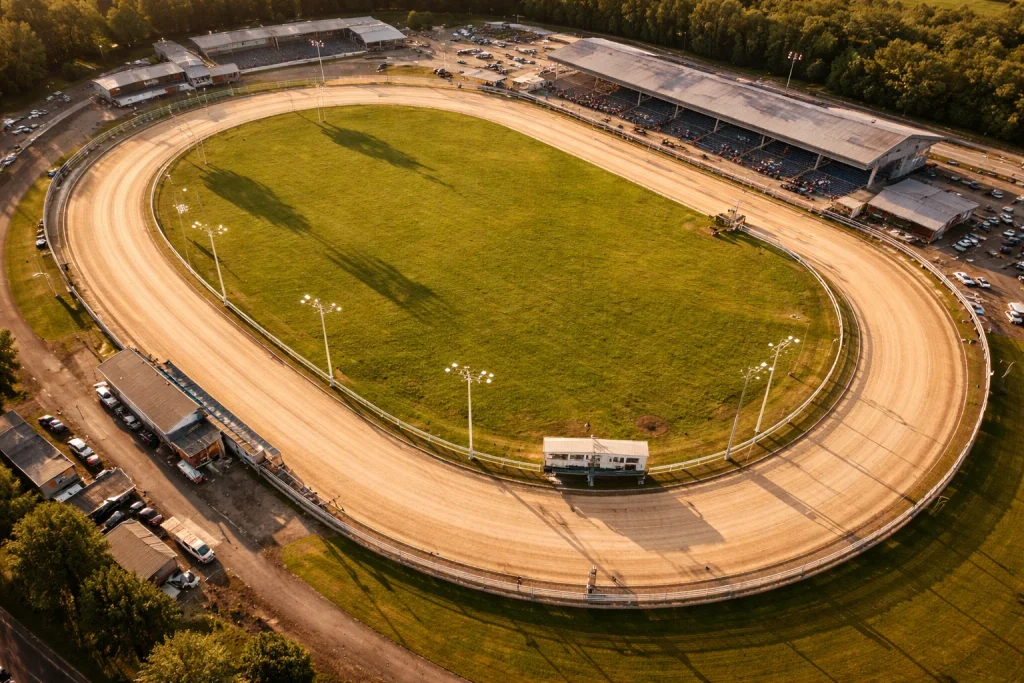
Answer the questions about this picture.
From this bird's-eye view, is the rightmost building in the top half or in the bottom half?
top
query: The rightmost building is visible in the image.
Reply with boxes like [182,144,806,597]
[866,178,979,245]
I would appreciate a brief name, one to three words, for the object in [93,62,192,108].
building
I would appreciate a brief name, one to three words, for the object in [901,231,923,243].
vehicle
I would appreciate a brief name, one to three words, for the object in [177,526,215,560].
car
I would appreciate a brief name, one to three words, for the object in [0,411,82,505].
building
